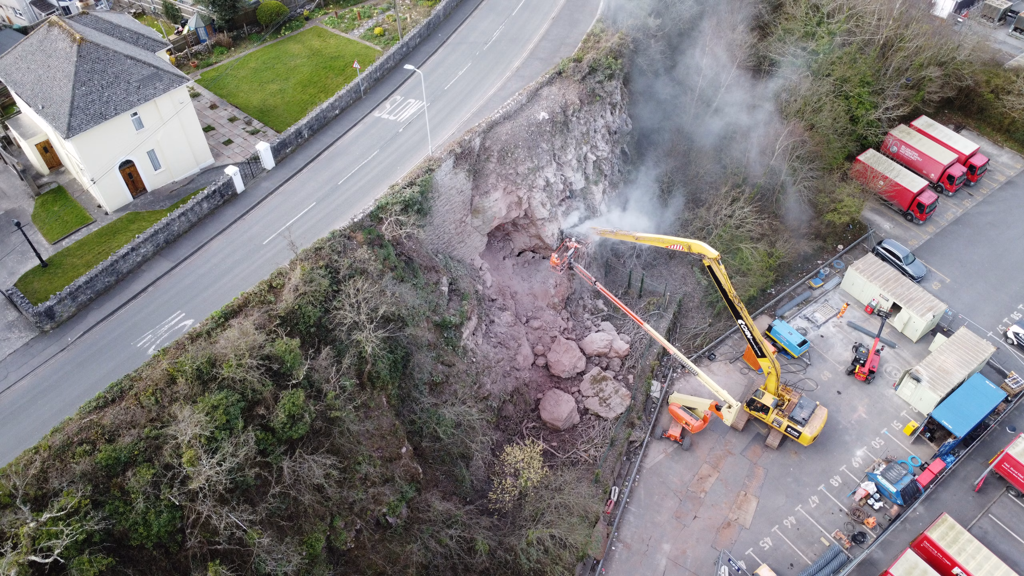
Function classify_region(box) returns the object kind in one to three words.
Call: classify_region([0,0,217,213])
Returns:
house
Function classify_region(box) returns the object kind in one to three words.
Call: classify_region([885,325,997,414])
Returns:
shipping container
